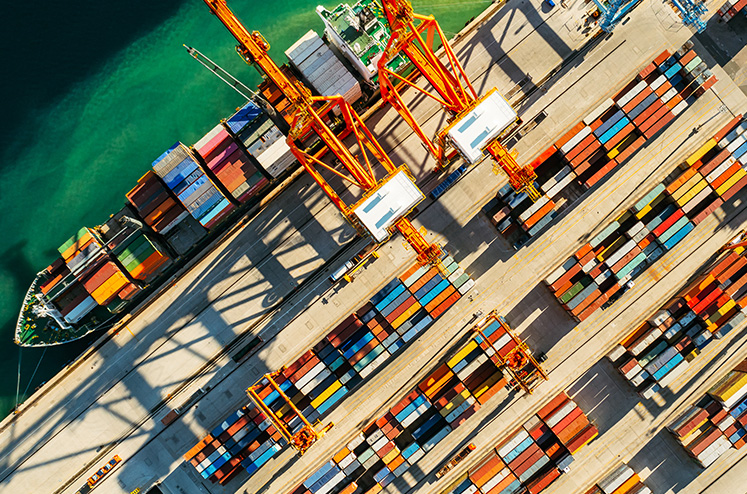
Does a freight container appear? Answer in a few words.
Yes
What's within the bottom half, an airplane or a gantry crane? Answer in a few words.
gantry crane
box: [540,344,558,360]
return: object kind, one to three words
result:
vehicle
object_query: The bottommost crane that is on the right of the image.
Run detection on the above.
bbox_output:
[467,313,550,396]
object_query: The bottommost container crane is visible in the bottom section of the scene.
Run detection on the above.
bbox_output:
[247,369,335,456]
